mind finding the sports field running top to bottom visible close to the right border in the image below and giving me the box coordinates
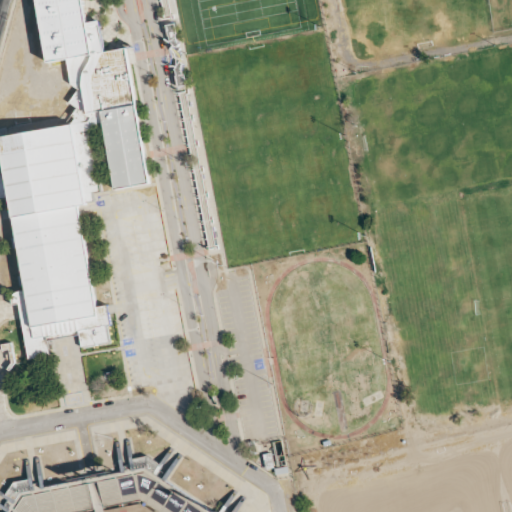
[347,46,512,414]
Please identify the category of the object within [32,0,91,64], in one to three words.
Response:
building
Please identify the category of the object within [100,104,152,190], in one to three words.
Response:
building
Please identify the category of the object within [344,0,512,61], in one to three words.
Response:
sports field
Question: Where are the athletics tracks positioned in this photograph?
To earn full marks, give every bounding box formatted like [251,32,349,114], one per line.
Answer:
[265,258,390,439]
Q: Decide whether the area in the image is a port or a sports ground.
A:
sports ground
